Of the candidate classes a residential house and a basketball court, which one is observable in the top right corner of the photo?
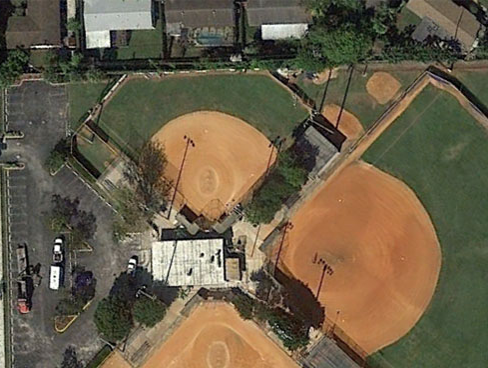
residential house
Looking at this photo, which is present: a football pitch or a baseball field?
baseball field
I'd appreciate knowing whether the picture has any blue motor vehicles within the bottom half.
No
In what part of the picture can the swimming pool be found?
top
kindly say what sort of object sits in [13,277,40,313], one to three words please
truck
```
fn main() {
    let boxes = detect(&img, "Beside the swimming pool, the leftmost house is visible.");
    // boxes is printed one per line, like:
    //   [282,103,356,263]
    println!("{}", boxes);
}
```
[81,0,156,32]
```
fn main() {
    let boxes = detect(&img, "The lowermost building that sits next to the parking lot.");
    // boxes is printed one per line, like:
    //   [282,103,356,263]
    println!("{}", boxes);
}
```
[152,238,227,289]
